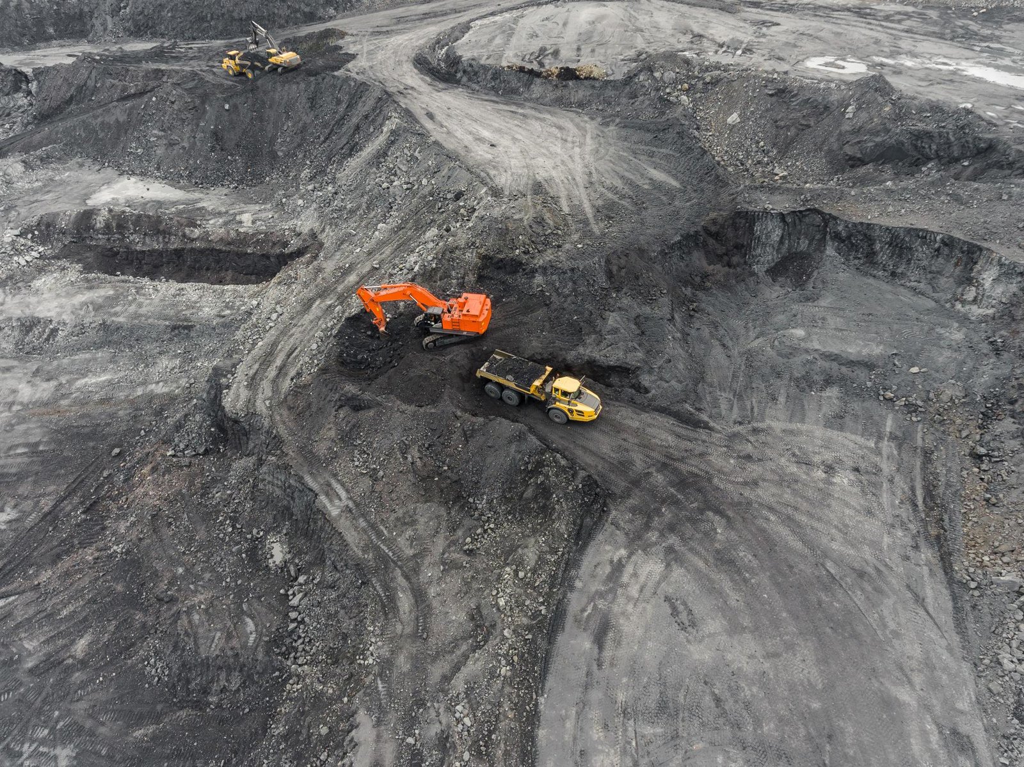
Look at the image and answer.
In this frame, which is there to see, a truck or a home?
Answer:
truck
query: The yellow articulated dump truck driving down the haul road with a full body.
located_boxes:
[474,349,603,430]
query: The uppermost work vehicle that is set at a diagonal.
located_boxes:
[247,17,301,73]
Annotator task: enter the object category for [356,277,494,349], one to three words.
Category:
work vehicle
